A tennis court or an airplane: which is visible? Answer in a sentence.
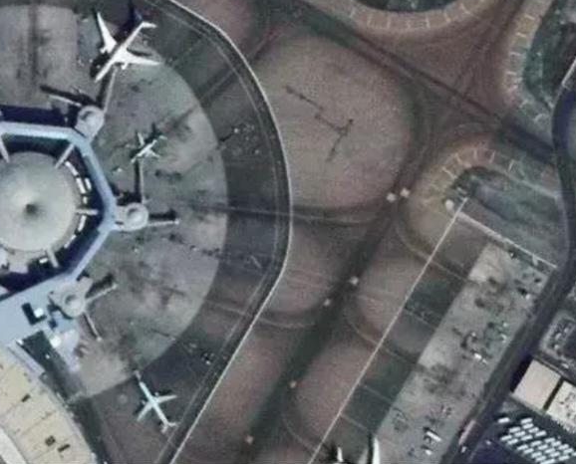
The image shows an airplane.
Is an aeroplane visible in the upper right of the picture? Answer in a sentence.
No, the scene shows no aeroplane in the upper right of the picture.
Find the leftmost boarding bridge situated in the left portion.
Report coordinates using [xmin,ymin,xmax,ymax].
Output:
[47,95,82,109]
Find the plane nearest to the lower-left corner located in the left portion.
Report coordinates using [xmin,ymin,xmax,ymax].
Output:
[137,382,176,429]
